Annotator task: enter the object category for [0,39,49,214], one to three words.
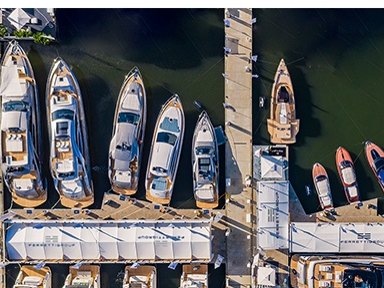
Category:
boat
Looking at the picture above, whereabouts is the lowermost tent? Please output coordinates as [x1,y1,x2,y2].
[258,267,276,286]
